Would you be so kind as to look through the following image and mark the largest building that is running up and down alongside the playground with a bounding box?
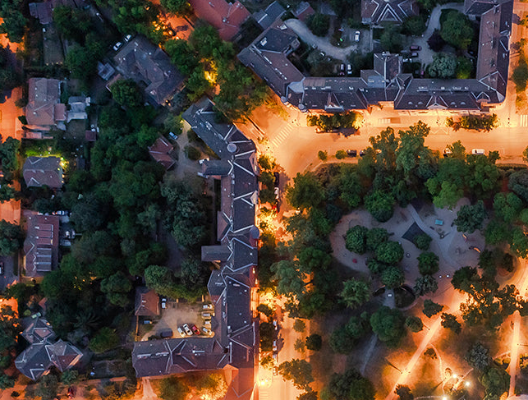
[201,106,263,382]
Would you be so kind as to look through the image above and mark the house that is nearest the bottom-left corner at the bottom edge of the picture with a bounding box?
[17,313,90,382]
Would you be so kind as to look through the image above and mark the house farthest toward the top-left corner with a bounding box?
[30,0,56,26]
